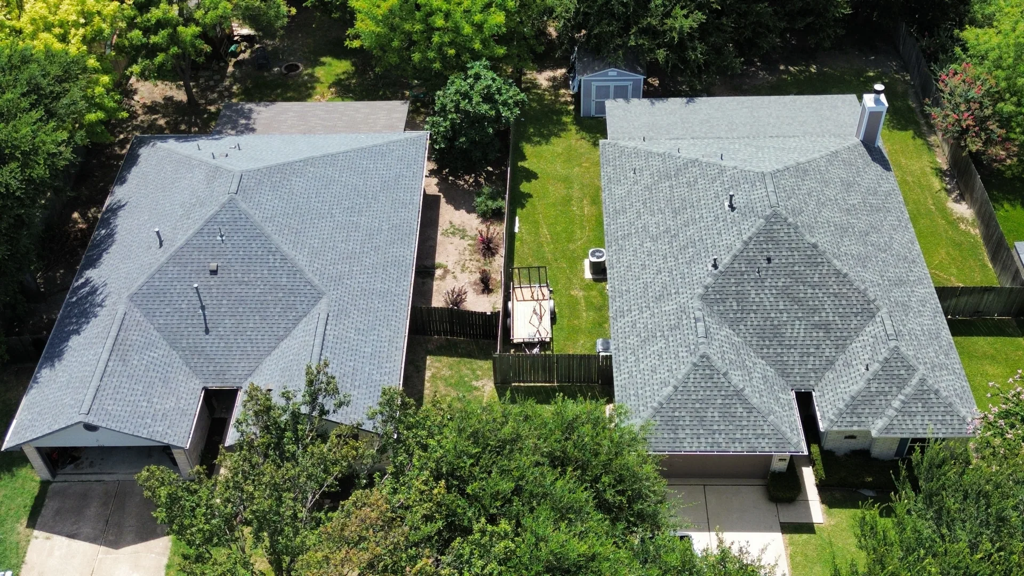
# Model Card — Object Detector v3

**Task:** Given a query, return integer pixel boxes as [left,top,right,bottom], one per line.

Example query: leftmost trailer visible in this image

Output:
[505,266,559,361]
